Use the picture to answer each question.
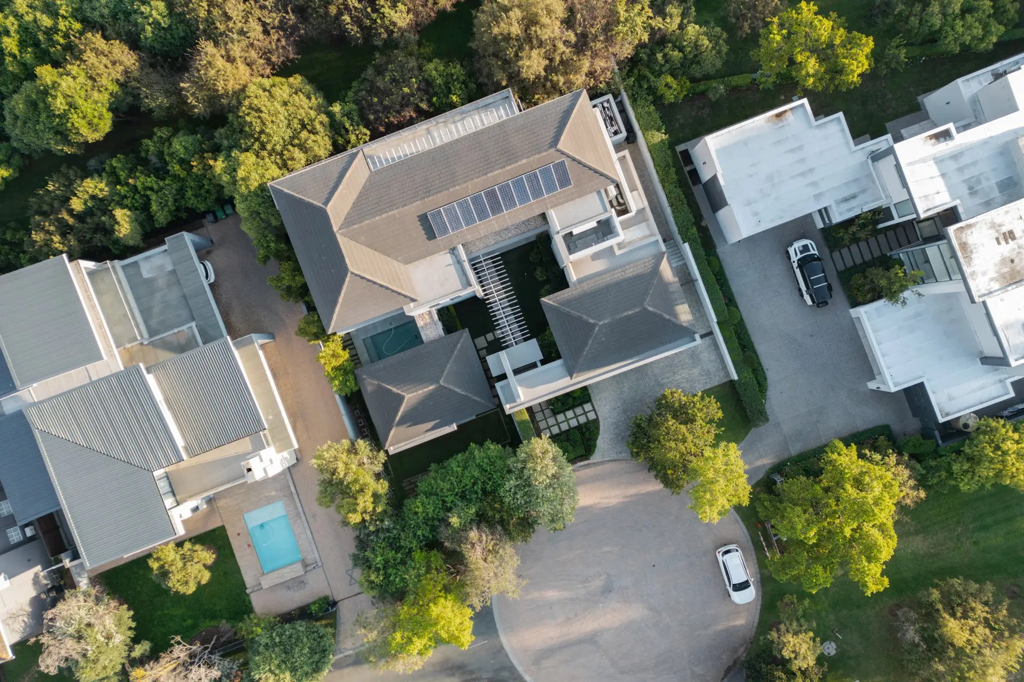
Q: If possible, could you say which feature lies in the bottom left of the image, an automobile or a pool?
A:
pool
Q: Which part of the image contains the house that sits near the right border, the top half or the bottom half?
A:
top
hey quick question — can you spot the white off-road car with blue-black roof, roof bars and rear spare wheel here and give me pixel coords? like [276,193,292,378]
[786,239,834,307]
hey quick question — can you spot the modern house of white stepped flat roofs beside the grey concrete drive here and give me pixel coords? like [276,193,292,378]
[679,53,1024,423]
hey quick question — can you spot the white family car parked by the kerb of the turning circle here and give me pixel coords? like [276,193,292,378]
[715,543,754,605]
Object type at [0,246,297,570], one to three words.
house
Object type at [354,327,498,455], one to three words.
building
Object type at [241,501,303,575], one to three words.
swimming pool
